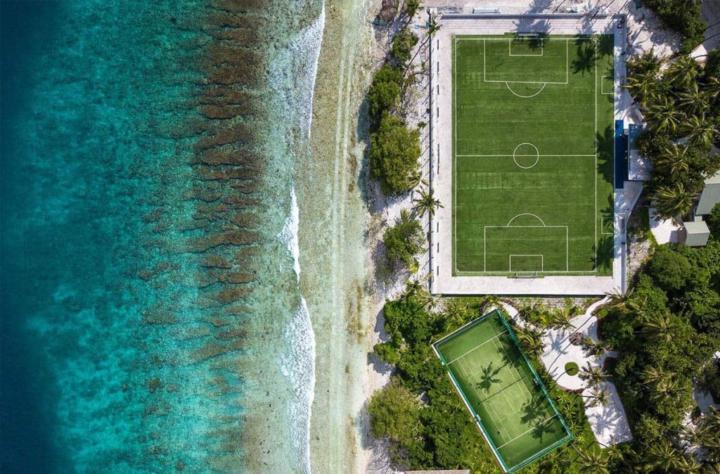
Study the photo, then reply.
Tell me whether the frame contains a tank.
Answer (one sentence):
No, no tank is visible in the view.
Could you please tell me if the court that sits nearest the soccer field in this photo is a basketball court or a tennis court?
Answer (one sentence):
It looks like the court that sits nearest the soccer field is a tennis court.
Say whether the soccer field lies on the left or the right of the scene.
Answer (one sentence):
The soccer field sits on the right side.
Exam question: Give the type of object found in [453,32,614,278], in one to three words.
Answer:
soccer field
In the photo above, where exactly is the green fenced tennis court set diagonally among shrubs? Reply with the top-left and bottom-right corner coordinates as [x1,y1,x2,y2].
[438,312,569,472]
